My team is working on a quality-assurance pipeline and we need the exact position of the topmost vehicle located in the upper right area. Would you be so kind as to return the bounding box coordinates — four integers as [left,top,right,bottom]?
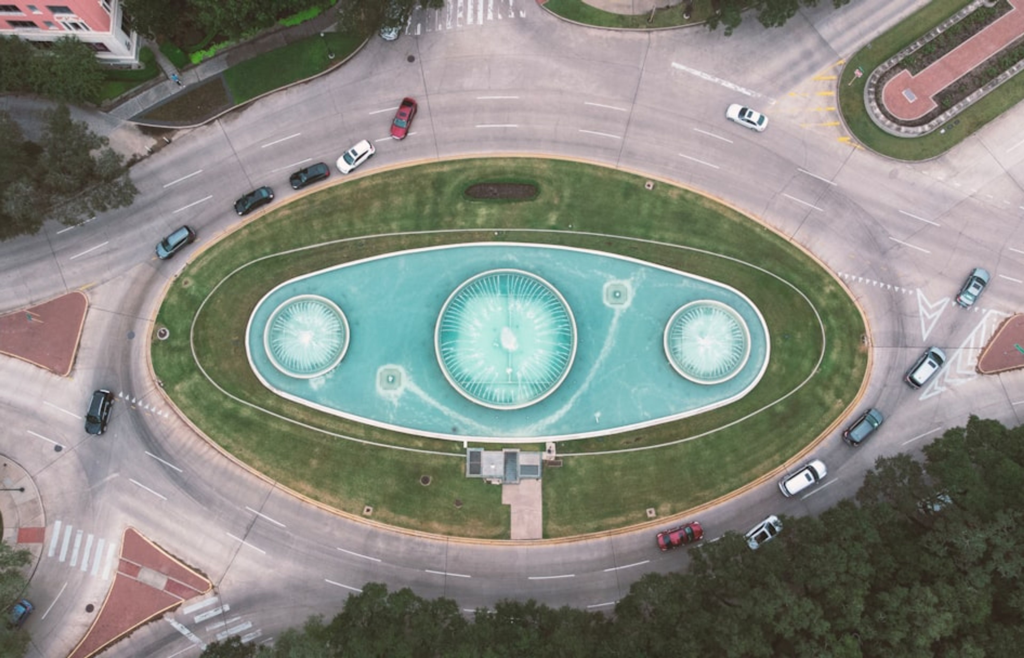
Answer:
[727,107,768,131]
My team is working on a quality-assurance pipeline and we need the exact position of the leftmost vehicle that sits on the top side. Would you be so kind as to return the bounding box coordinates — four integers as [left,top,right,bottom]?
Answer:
[155,226,197,259]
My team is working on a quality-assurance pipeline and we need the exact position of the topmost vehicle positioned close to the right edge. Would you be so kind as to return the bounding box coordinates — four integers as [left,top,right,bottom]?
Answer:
[957,269,988,310]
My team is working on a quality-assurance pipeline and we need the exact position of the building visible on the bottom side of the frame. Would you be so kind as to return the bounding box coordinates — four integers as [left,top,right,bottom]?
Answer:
[467,448,542,484]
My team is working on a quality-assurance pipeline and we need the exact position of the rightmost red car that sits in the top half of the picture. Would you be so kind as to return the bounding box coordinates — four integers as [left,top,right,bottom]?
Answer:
[393,96,417,141]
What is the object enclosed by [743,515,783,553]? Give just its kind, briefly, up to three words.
car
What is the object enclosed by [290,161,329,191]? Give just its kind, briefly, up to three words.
car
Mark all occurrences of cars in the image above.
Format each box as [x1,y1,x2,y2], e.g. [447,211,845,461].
[842,408,884,448]
[779,460,825,498]
[155,226,197,259]
[336,139,375,175]
[234,185,274,216]
[393,96,417,141]
[905,347,944,392]
[727,107,768,131]
[957,269,988,310]
[743,515,783,553]
[657,523,703,550]
[86,391,116,435]
[290,161,329,191]
[382,0,405,41]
